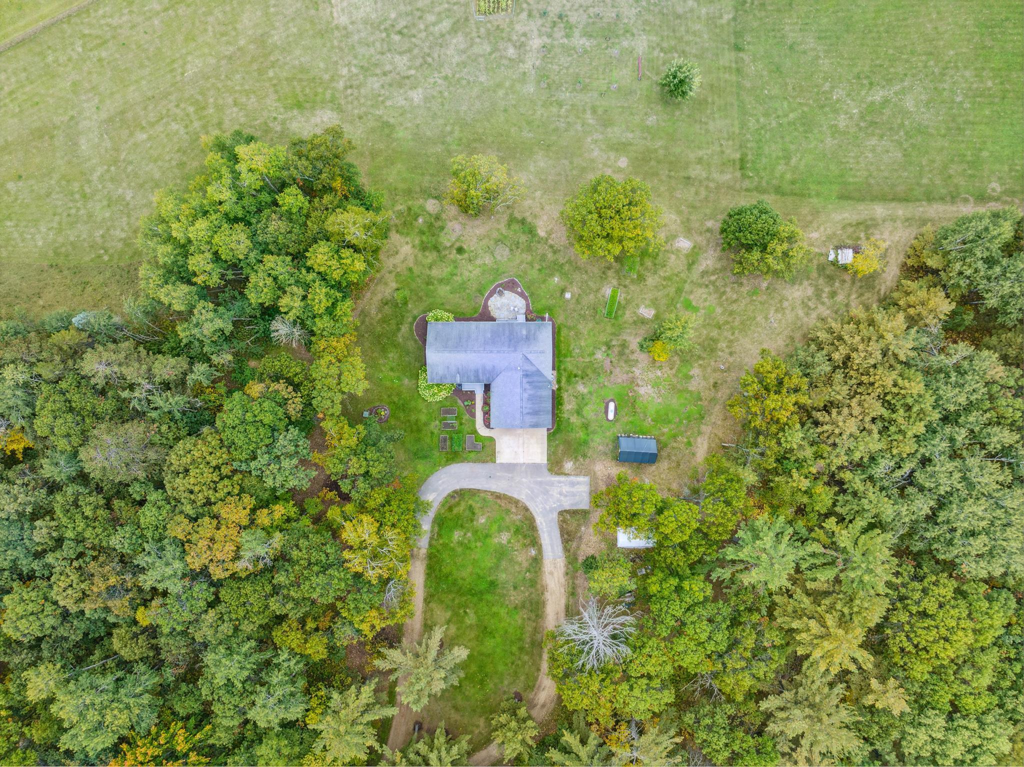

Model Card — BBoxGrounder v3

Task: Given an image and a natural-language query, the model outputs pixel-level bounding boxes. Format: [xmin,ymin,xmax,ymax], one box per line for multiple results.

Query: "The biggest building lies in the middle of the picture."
[425,313,555,430]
